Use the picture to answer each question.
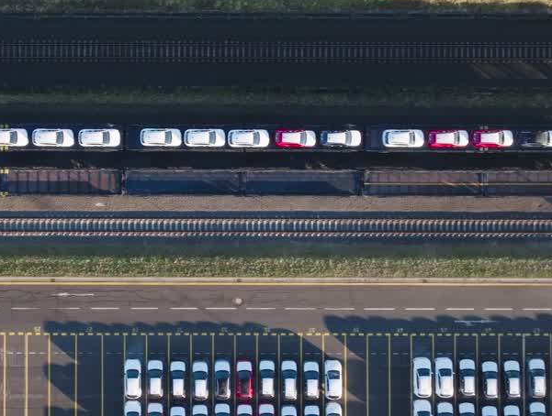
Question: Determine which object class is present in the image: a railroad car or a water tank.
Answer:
railroad car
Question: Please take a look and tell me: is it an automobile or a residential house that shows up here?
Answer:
automobile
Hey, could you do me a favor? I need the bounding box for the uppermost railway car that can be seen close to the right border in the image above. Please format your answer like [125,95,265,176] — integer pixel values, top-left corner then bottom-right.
[364,125,552,154]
